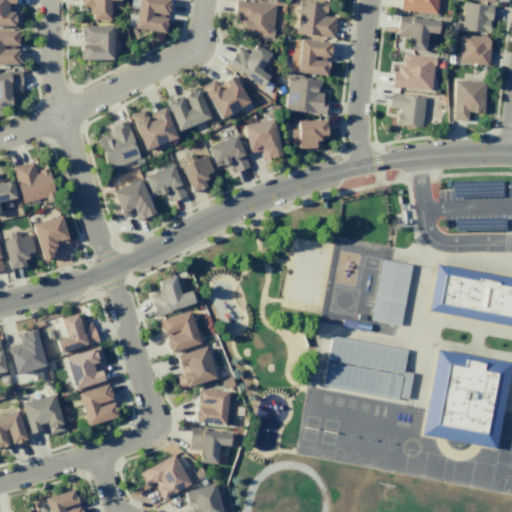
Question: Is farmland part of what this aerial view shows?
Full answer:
No, there is no farmland in the image.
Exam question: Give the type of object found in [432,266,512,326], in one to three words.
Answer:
building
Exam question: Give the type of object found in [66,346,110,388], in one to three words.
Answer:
house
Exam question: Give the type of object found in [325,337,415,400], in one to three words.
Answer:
building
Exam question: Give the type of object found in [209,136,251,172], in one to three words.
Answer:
house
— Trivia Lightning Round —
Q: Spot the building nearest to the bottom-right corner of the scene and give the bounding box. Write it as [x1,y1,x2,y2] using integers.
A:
[424,350,512,448]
